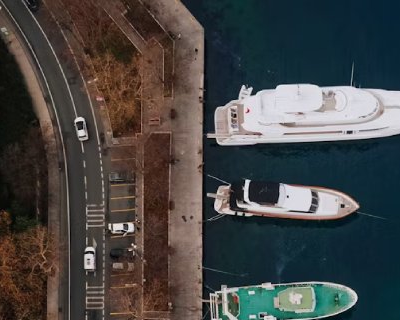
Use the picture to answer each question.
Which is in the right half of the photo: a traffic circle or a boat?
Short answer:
boat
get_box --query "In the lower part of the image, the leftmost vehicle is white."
[81,245,95,271]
